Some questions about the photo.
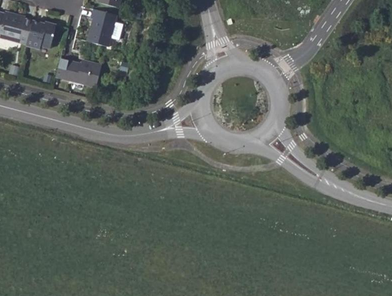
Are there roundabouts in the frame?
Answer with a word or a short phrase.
Yes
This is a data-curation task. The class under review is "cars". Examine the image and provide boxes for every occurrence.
[81,10,92,15]
[149,123,160,128]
